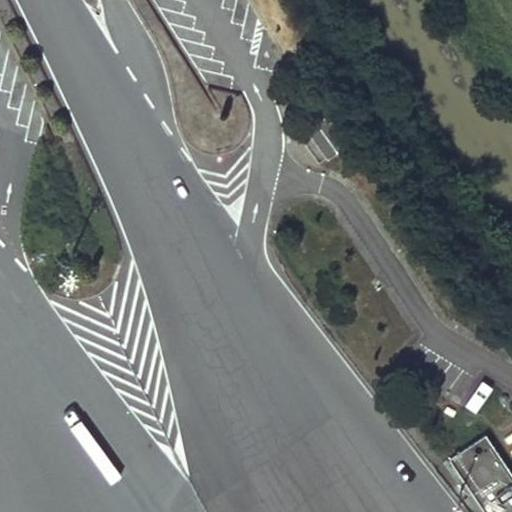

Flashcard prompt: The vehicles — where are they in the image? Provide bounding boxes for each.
[466,380,494,412]
[173,178,189,200]
[63,408,122,486]
[395,460,412,482]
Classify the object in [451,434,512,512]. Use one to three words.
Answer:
building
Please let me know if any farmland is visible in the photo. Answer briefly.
No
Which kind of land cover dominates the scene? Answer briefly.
paved ground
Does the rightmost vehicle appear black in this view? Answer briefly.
No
